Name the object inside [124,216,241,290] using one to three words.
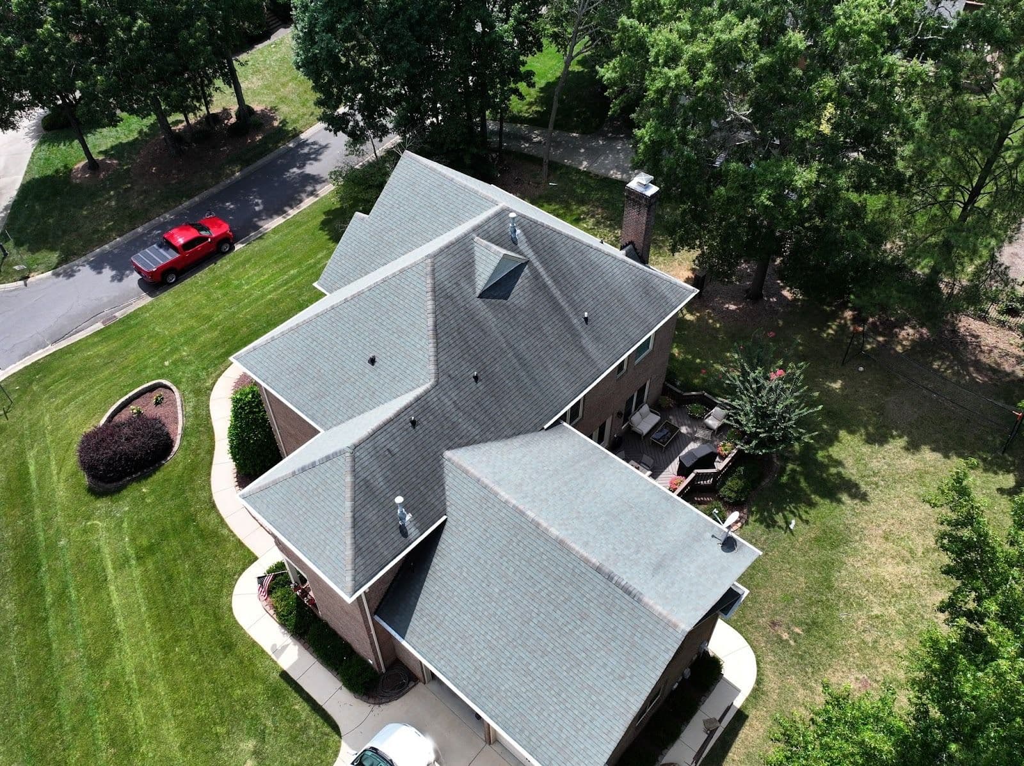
truck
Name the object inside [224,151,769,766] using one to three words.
house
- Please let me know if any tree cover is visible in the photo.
Yes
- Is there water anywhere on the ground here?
No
